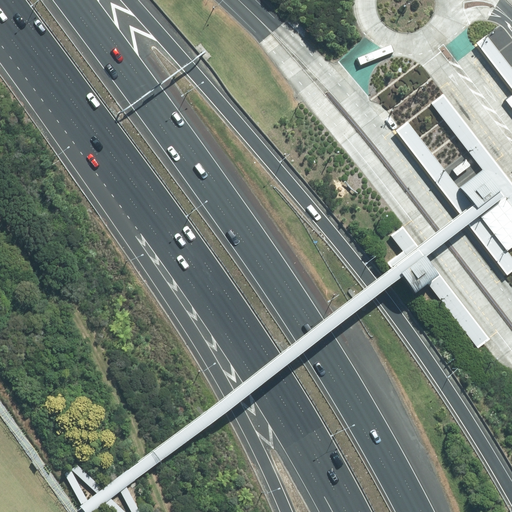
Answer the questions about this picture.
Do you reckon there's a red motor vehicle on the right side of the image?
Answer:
No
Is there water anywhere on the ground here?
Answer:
No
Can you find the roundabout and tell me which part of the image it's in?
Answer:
top right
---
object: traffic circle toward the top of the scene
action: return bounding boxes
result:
[357,0,452,52]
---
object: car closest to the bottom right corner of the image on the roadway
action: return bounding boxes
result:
[369,428,382,444]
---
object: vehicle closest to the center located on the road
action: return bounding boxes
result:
[226,230,240,245]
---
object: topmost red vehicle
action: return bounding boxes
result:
[110,47,124,63]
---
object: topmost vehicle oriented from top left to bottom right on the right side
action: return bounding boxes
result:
[305,204,322,222]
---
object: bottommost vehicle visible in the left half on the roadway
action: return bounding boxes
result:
[176,255,190,270]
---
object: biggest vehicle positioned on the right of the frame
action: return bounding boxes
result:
[356,46,393,66]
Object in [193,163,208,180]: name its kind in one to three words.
vehicle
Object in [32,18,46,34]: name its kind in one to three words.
car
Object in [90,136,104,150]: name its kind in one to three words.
vehicle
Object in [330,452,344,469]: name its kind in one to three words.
car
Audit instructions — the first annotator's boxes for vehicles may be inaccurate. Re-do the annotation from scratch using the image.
[330,452,344,469]
[86,153,99,167]
[176,255,190,270]
[313,361,326,377]
[104,63,118,79]
[90,136,104,150]
[86,92,100,108]
[110,47,124,63]
[356,46,393,66]
[174,232,187,248]
[0,9,8,23]
[32,18,46,34]
[193,163,208,180]
[226,230,240,245]
[166,146,180,161]
[171,111,184,126]
[369,428,382,444]
[182,226,195,242]
[305,204,322,222]
[12,13,26,29]
[326,469,340,484]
